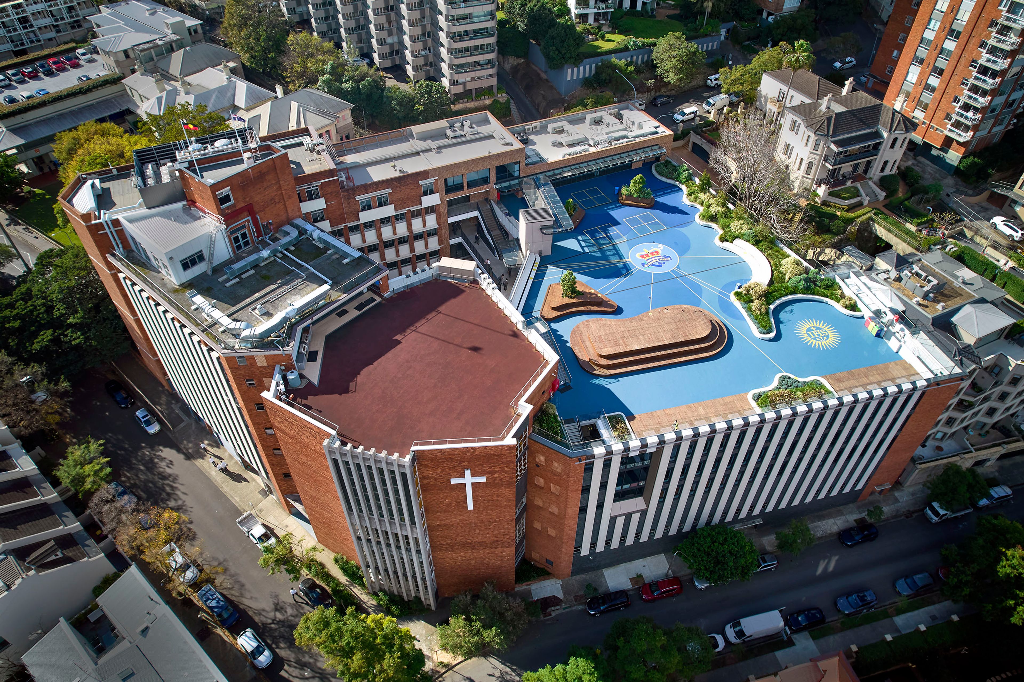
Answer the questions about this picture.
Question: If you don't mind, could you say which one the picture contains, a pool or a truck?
truck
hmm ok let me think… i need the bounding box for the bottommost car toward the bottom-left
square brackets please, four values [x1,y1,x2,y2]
[233,624,275,669]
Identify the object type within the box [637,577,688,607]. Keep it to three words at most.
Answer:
car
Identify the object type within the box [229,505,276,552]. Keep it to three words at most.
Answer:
truck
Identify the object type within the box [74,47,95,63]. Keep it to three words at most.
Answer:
car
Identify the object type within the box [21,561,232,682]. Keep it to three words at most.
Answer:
house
